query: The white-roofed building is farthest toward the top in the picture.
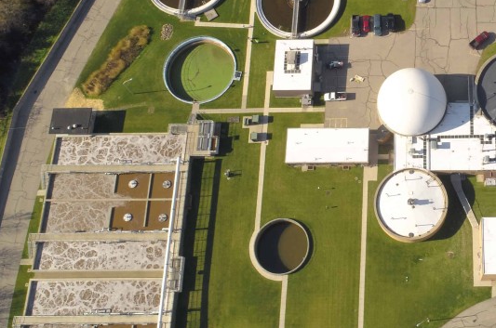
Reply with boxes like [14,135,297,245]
[272,40,323,99]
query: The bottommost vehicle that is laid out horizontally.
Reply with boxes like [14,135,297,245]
[320,90,349,102]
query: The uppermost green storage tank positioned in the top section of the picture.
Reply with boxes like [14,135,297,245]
[163,36,245,106]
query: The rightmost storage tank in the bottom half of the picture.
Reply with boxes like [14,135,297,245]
[375,169,448,244]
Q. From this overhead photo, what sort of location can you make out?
industrial area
